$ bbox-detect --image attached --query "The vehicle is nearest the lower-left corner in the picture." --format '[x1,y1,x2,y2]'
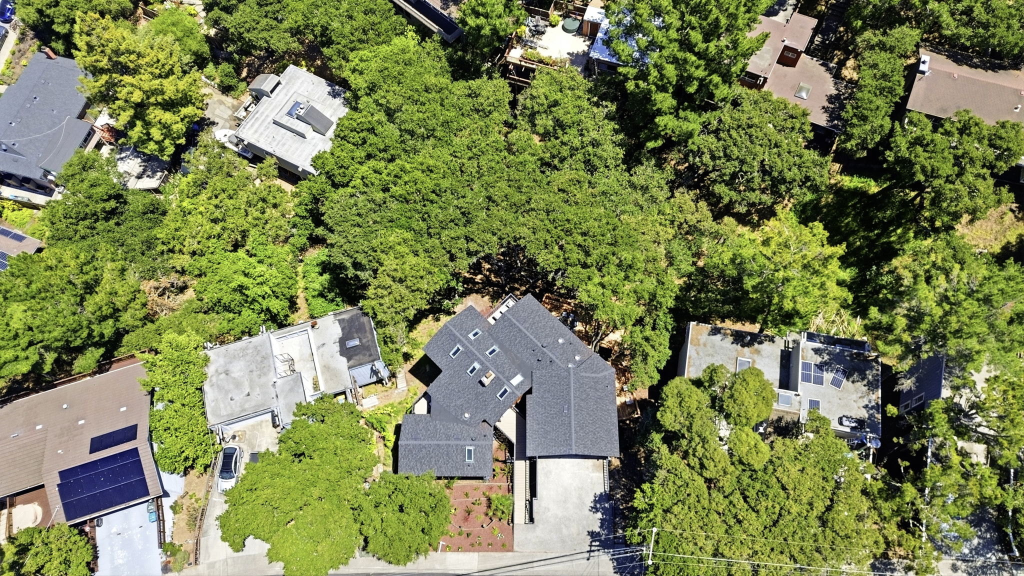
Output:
[210,441,239,496]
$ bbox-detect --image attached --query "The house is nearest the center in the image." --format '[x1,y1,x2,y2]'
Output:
[398,293,619,478]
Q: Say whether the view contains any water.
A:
No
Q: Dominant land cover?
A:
trees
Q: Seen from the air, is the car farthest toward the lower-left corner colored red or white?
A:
white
